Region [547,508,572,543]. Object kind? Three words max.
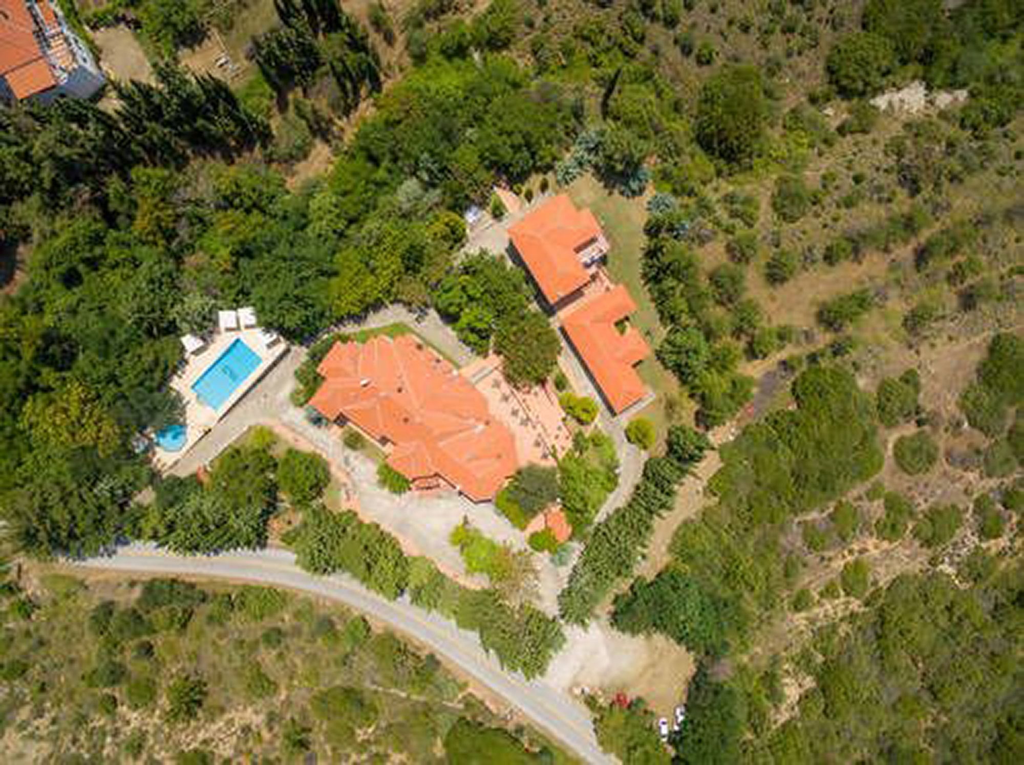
building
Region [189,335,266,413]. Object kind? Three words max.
swimming pool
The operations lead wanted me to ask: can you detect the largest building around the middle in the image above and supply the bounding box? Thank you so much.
[308,334,517,503]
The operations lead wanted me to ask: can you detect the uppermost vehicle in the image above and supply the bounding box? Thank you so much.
[464,203,481,226]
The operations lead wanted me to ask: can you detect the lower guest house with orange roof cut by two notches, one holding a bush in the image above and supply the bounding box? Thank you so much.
[561,284,651,414]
